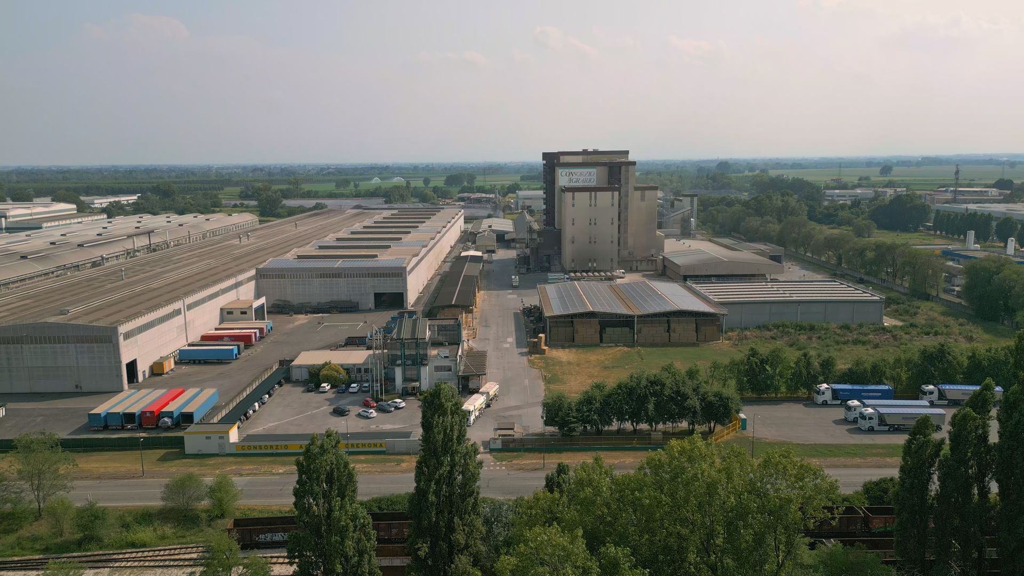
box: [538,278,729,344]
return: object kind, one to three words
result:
barn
